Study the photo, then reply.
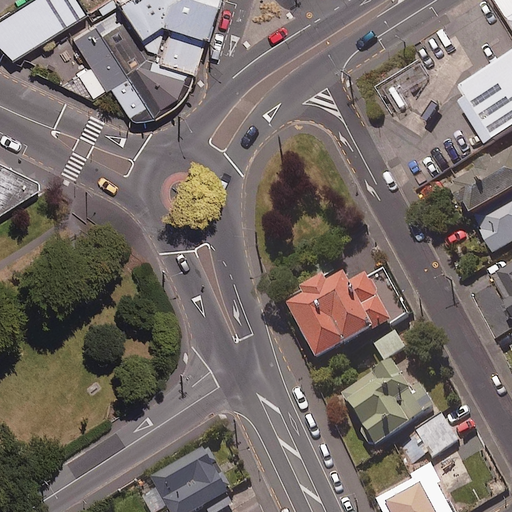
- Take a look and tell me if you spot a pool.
No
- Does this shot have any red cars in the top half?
Yes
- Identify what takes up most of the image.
paved ground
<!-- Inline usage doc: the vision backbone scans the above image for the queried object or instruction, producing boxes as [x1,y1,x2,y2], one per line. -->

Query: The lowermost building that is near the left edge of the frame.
[0,165,40,218]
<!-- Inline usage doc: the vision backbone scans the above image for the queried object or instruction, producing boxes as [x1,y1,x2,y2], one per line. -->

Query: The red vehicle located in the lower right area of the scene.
[456,420,476,435]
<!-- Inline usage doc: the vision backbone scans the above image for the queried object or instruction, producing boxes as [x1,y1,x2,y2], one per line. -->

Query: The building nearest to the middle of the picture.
[286,270,390,355]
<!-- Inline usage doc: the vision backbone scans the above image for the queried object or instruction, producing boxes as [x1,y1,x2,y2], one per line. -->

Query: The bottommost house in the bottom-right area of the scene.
[350,462,454,512]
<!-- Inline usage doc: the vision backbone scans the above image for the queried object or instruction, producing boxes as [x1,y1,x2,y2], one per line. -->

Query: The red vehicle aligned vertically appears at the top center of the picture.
[220,9,232,32]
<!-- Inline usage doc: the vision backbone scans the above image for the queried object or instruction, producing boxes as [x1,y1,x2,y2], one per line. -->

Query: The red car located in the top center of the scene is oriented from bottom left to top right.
[267,29,288,46]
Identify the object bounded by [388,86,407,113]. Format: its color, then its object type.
white vehicle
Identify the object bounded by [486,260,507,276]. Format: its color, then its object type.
white vehicle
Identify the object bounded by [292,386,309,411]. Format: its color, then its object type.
white car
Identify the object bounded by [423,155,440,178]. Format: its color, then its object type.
white car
